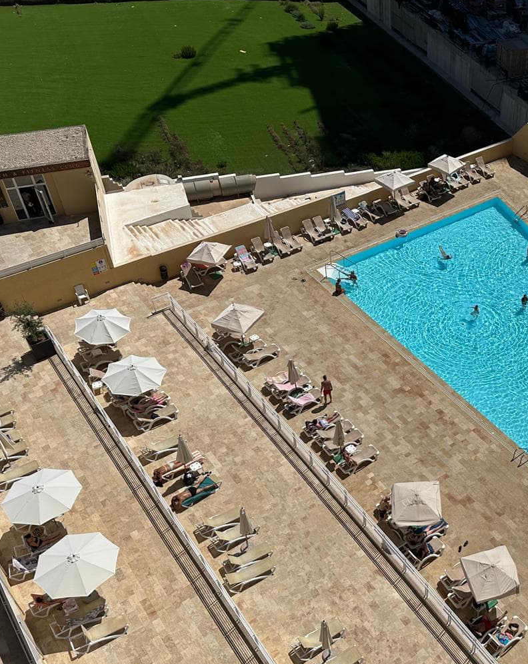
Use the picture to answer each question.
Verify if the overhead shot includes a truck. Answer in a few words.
No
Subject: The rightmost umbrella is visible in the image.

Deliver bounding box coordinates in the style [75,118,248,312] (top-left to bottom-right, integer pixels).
[459,548,525,613]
